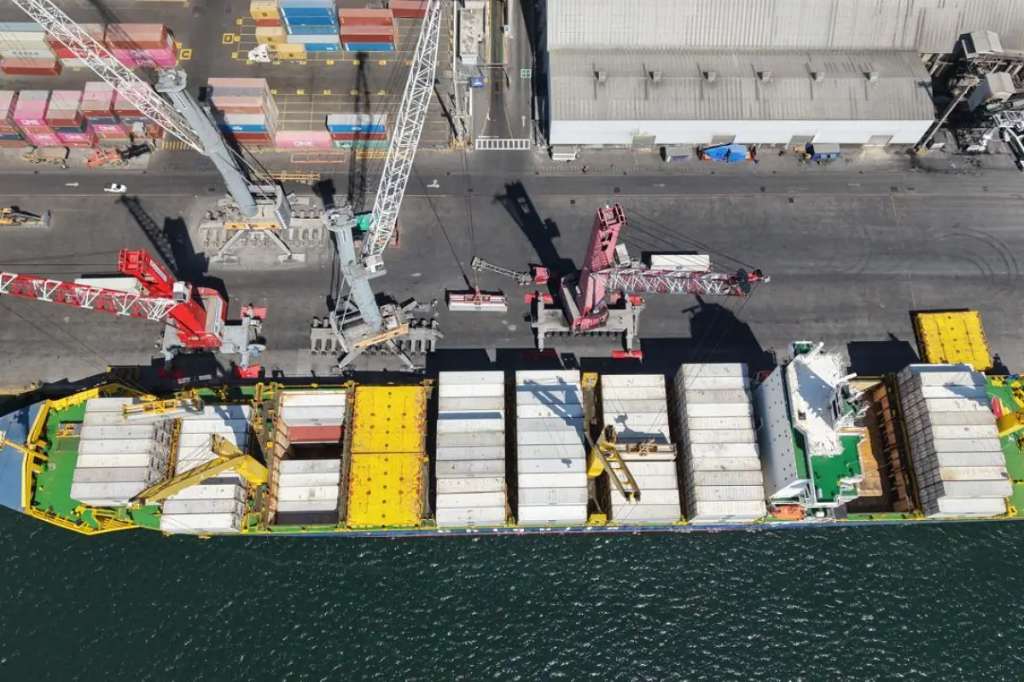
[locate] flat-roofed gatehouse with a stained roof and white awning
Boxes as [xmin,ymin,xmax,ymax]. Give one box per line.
[459,7,483,64]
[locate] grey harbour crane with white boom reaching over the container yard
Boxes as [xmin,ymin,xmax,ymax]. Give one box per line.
[16,0,320,266]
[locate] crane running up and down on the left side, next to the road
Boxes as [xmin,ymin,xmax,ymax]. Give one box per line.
[309,0,478,378]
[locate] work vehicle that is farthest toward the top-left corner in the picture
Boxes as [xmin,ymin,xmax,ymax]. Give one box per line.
[20,144,67,166]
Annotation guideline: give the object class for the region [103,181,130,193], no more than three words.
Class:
vehicle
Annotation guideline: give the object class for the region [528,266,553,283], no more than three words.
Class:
work vehicle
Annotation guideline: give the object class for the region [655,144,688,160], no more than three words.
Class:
vehicle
